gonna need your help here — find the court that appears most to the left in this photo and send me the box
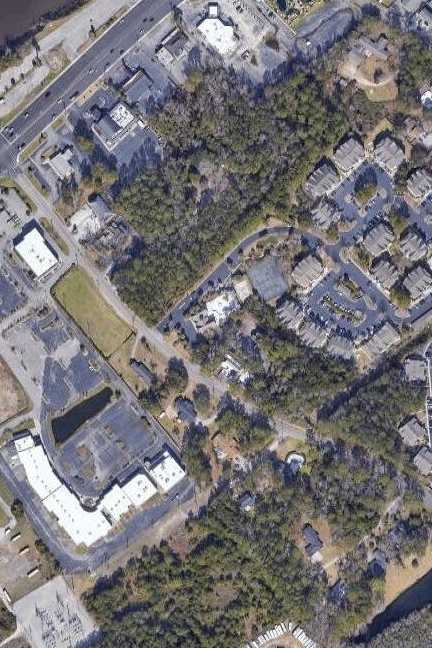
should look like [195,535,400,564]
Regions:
[248,255,289,300]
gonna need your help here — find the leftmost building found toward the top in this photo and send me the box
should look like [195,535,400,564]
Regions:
[14,228,59,276]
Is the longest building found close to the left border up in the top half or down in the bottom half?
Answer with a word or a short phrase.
bottom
